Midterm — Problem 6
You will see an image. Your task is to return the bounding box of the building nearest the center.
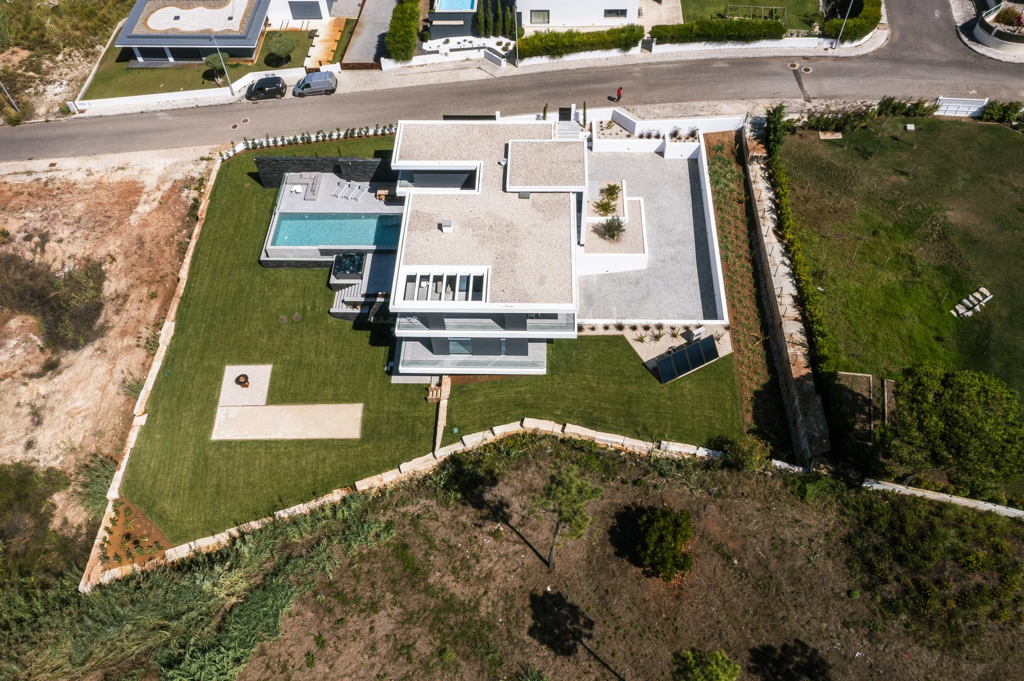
[389,120,588,383]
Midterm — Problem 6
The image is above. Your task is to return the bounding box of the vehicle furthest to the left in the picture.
[245,75,287,99]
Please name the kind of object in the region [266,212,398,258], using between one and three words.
swimming pool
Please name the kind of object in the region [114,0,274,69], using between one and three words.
house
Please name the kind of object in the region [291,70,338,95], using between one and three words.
vehicle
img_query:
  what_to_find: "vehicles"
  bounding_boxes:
[291,70,338,95]
[245,75,287,99]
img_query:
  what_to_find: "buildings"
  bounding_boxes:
[389,120,588,383]
[114,0,274,69]
[521,0,639,25]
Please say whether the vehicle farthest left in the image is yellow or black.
black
